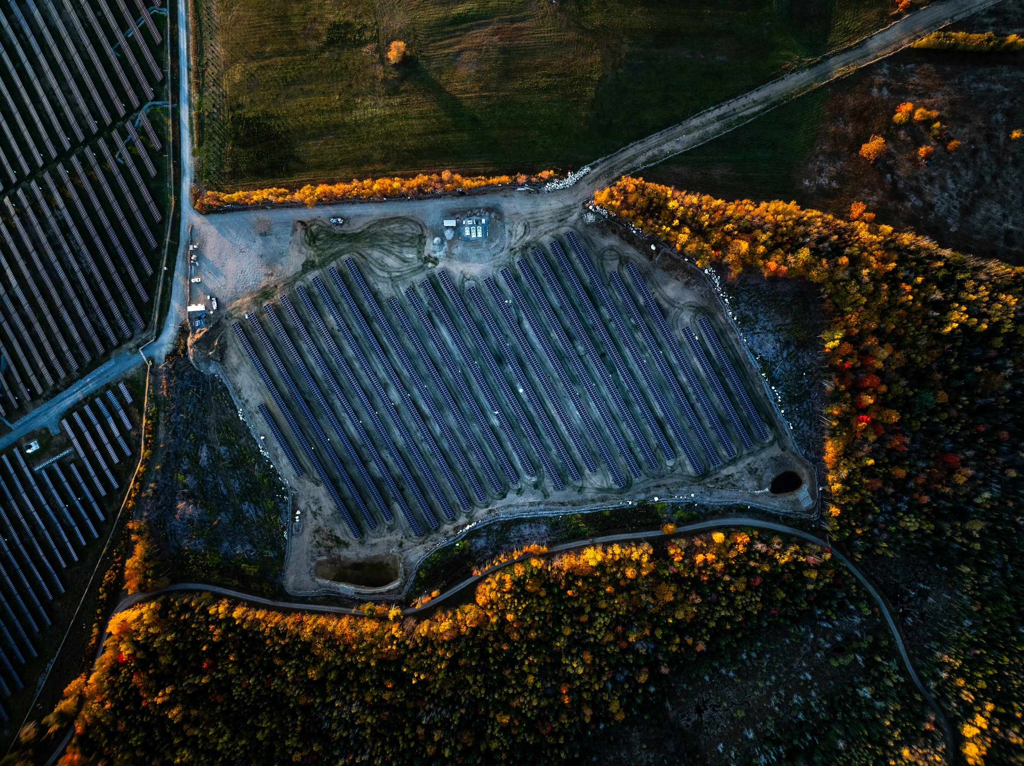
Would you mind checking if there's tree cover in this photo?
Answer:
Yes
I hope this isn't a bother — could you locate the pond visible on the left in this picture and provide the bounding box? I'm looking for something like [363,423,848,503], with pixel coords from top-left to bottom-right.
[313,555,401,588]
